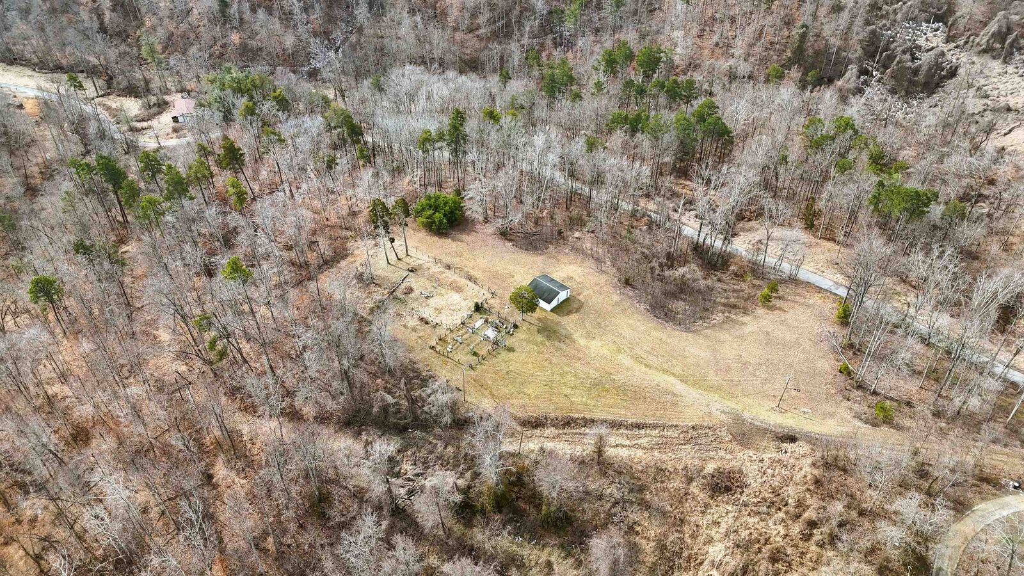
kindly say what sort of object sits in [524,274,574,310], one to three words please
shed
